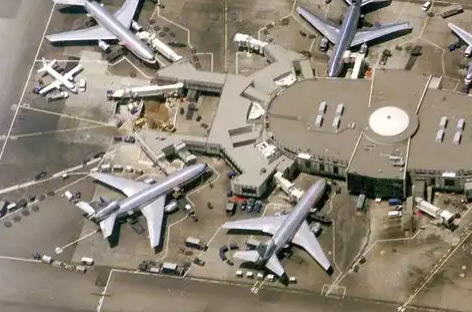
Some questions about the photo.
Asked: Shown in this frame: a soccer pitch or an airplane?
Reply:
airplane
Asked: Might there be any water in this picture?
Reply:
No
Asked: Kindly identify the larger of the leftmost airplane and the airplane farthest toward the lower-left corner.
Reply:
the airplane farthest toward the lower-left corner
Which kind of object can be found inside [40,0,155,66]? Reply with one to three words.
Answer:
airplane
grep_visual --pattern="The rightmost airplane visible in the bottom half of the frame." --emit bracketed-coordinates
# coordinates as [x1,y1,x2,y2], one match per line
[221,184,329,276]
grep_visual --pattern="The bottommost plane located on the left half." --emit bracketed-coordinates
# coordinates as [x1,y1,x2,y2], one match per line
[74,169,206,251]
